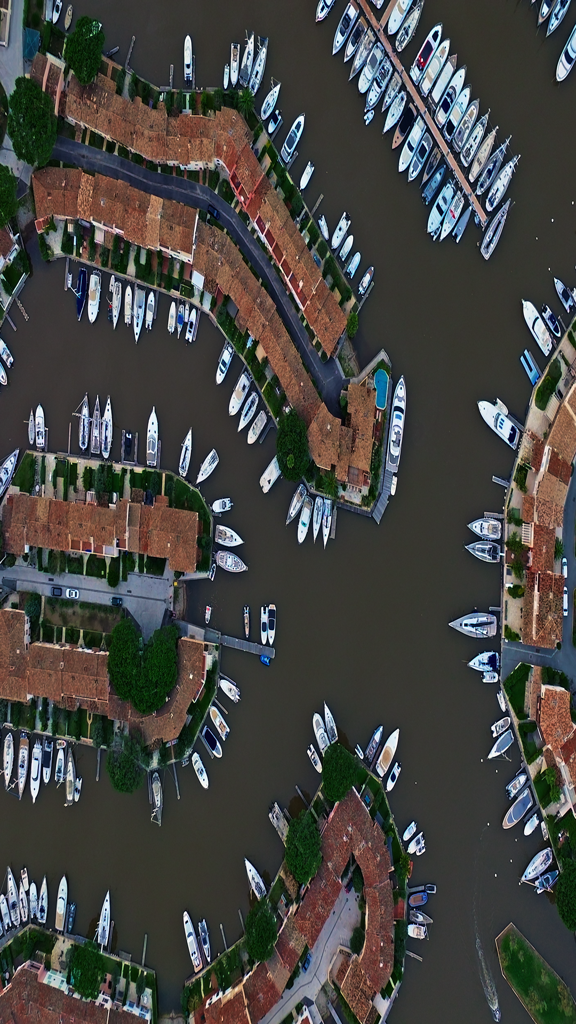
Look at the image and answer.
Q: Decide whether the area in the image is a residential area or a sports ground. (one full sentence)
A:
The area seen from above is a residential area.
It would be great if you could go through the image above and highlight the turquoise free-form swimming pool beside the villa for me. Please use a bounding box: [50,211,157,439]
[373,368,389,410]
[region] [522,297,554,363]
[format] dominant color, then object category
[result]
white boat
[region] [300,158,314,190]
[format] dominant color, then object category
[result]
white boat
